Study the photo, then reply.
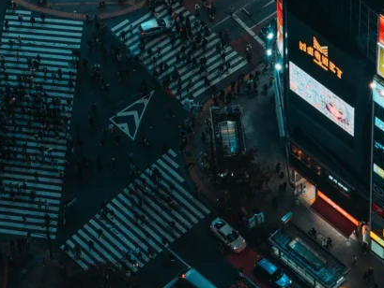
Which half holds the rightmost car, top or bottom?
bottom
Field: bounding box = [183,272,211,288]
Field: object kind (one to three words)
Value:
vehicle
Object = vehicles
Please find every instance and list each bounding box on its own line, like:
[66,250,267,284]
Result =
[183,272,211,288]
[212,218,244,250]
[135,14,171,36]
[256,256,290,288]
